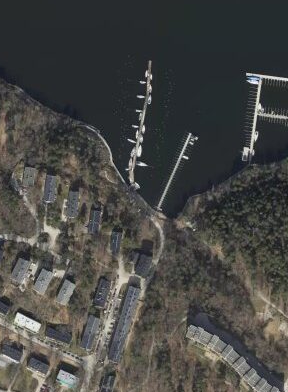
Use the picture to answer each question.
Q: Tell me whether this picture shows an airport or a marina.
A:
marina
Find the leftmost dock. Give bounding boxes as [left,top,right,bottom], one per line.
[130,60,151,189]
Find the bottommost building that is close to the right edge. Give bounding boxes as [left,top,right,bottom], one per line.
[185,325,279,392]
